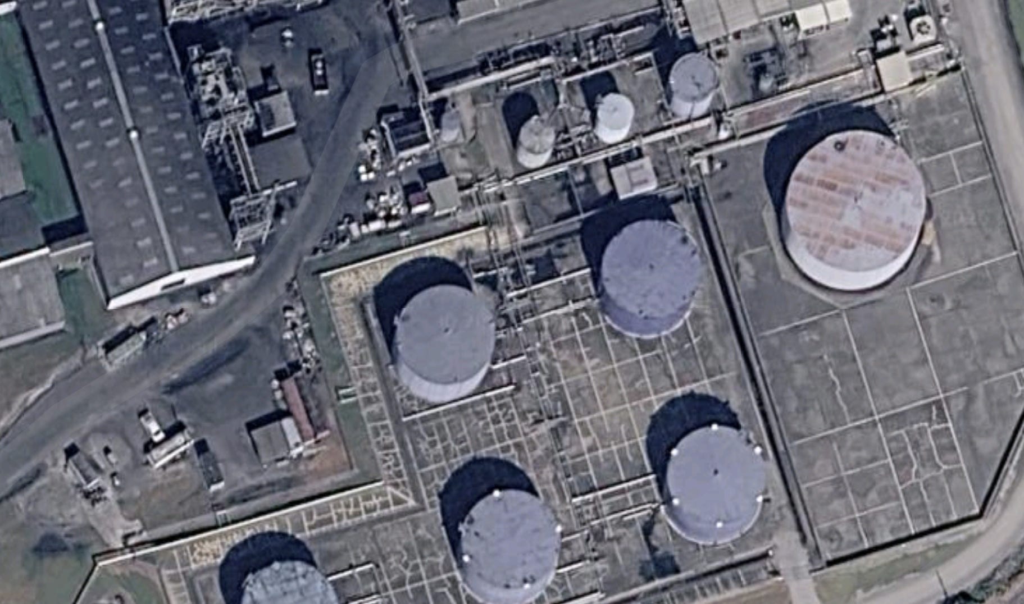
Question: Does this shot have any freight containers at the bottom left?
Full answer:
Yes, a freight container appears at the bottom left.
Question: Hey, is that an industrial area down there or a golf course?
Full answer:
This image shows an industrial area.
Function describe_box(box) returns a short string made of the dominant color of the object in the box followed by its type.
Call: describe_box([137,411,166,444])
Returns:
white truck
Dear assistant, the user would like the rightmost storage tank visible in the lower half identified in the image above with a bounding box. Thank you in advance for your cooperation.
[658,424,766,545]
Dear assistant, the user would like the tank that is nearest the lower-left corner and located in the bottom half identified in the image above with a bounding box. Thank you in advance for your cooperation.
[239,560,339,604]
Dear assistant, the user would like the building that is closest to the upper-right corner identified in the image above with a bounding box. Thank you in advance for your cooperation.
[876,52,913,95]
